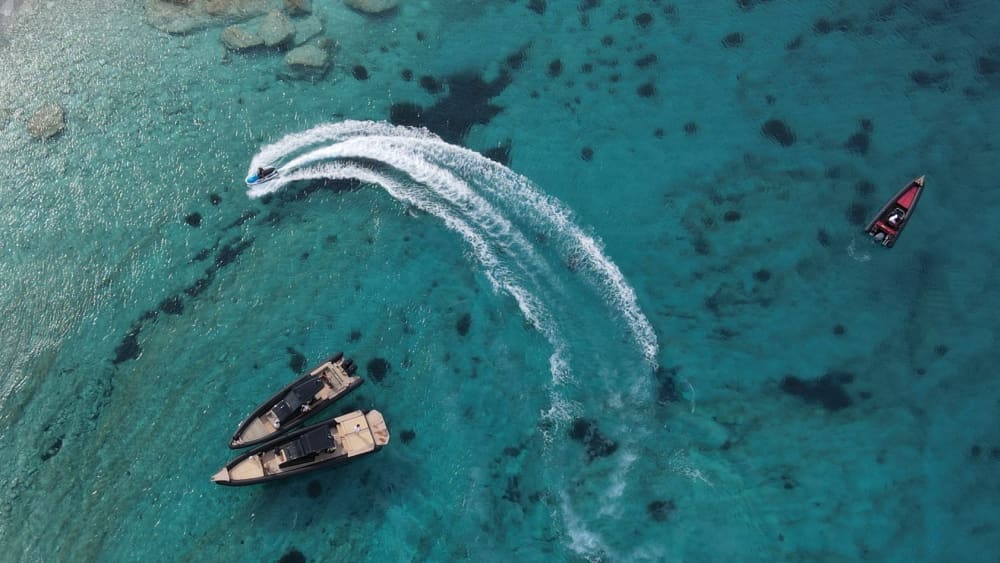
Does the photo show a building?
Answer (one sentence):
No, the scene contains no building.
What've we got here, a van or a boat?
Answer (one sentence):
This aerial view contains a boat.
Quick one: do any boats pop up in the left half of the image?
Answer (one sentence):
Yes, looking in the left half of the image, one can make out a boat.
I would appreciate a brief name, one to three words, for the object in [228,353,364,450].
boat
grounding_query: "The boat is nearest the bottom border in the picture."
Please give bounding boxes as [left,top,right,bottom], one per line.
[209,409,390,484]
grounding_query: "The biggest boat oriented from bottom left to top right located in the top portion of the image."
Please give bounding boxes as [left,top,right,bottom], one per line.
[863,175,927,251]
